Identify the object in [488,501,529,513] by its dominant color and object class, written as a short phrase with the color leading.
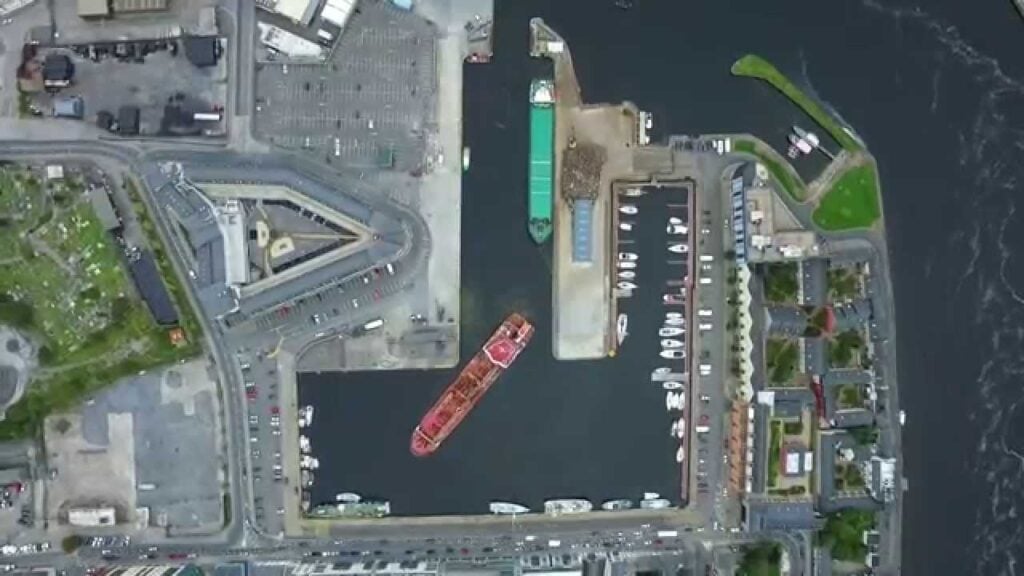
white boat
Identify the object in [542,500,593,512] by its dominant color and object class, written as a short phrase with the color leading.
white boat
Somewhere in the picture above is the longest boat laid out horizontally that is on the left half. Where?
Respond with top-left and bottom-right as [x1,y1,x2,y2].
[309,502,390,518]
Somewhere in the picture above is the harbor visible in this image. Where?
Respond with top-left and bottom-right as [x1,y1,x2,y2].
[277,0,700,534]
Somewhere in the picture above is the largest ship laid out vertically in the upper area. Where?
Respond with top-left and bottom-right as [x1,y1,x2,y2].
[530,78,554,242]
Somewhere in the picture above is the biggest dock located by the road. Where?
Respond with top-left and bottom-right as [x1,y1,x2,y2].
[530,17,661,358]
